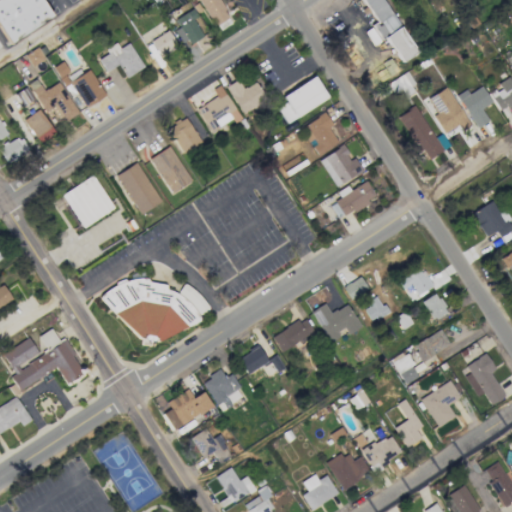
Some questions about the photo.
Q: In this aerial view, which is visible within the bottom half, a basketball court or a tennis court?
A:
basketball court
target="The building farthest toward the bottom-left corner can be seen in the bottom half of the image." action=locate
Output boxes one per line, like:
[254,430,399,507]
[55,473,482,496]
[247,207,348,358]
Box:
[0,398,30,435]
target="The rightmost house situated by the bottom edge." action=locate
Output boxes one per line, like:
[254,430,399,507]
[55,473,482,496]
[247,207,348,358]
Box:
[484,462,512,505]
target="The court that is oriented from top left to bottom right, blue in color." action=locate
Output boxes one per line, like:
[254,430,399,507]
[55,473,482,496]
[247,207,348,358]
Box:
[94,432,163,510]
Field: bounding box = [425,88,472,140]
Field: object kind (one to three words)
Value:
house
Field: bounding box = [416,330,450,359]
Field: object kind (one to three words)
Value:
shed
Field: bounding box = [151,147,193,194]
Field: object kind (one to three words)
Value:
building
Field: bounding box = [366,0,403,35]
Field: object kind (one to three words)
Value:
building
